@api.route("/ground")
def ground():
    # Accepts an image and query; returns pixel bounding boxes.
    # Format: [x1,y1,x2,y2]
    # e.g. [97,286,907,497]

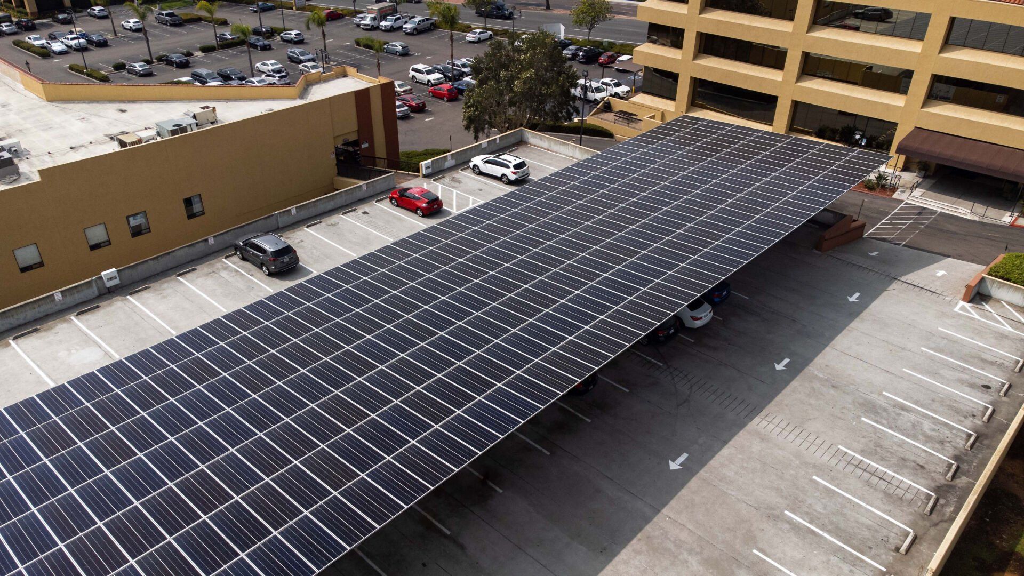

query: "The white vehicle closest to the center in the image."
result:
[467,152,530,184]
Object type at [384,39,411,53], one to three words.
car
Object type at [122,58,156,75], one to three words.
car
